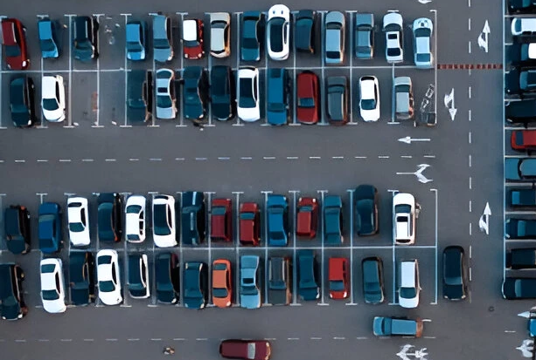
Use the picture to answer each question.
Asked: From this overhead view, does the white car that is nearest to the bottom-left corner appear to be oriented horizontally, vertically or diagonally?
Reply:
vertically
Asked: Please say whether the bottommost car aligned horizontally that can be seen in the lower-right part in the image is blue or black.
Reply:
blue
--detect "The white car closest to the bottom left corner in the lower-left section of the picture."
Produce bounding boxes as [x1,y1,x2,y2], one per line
[36,258,66,313]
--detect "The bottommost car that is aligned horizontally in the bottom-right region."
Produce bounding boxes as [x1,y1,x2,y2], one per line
[373,315,422,339]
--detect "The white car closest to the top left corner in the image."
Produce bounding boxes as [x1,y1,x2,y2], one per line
[39,75,65,122]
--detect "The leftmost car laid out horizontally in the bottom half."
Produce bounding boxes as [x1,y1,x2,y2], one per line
[220,339,272,360]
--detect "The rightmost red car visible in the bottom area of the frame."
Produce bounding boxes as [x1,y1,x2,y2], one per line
[326,258,348,299]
